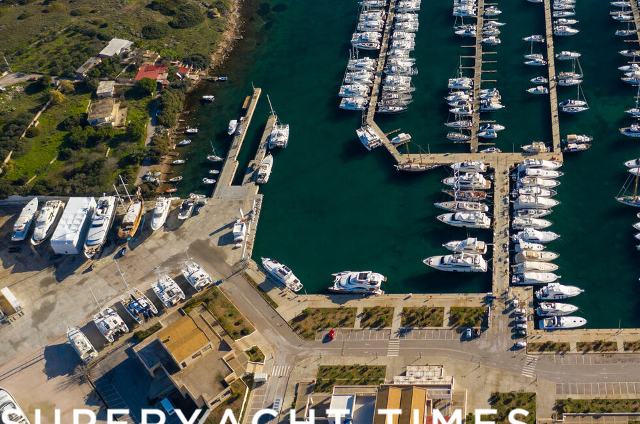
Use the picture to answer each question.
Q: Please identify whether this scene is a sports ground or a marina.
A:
marina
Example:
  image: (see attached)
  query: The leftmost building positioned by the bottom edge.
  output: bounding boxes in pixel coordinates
[132,303,252,411]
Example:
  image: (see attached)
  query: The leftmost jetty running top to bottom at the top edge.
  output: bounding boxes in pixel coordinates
[366,0,397,121]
